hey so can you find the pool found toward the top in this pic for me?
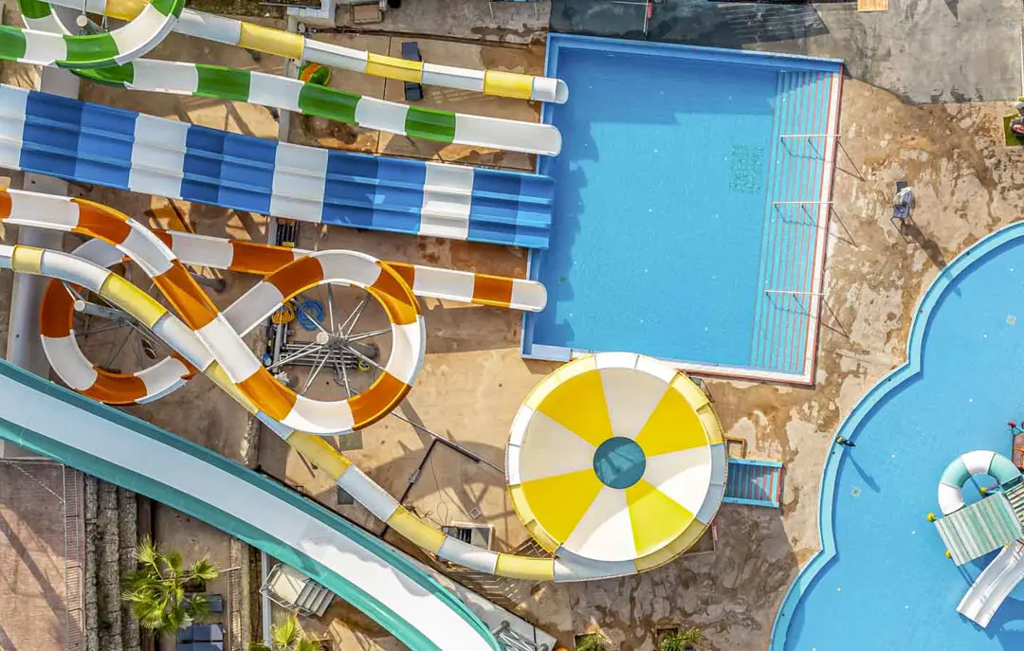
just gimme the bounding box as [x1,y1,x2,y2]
[521,28,843,384]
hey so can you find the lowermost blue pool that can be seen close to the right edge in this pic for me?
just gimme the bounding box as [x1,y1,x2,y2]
[771,222,1024,651]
